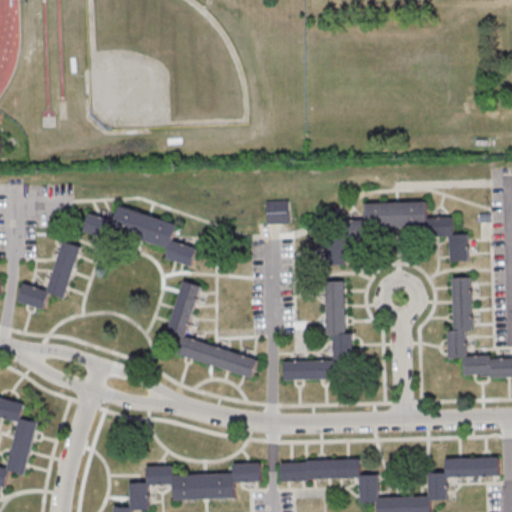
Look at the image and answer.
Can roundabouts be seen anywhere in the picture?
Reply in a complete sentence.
Yes, the picture does show a roundabout.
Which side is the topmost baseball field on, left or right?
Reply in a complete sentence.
You can find the topmost baseball field on the left side of the picture.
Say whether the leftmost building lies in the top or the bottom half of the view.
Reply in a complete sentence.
The leftmost building is in the bottom half of the image.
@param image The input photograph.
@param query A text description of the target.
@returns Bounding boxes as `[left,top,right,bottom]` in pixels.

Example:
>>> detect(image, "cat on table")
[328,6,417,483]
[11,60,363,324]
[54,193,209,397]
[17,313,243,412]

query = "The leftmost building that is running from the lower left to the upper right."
[18,242,80,309]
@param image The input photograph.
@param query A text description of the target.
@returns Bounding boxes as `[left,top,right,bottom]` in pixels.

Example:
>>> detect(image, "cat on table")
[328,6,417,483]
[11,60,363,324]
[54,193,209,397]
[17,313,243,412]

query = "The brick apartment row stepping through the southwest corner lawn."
[0,394,38,486]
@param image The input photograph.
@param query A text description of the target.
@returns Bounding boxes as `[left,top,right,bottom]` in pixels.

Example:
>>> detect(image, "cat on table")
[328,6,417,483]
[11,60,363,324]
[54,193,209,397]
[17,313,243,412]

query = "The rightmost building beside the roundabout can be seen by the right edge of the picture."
[448,277,512,378]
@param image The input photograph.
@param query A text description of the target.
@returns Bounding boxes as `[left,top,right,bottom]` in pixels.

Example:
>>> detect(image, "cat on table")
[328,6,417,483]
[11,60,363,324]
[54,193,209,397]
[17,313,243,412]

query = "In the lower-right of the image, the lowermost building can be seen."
[280,456,500,512]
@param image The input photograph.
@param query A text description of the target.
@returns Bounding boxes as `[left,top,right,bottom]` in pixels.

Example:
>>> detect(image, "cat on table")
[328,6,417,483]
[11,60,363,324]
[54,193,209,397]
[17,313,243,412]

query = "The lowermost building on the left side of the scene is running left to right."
[114,461,261,512]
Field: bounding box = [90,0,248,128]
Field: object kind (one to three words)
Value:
baseball field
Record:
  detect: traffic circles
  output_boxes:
[374,269,428,334]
